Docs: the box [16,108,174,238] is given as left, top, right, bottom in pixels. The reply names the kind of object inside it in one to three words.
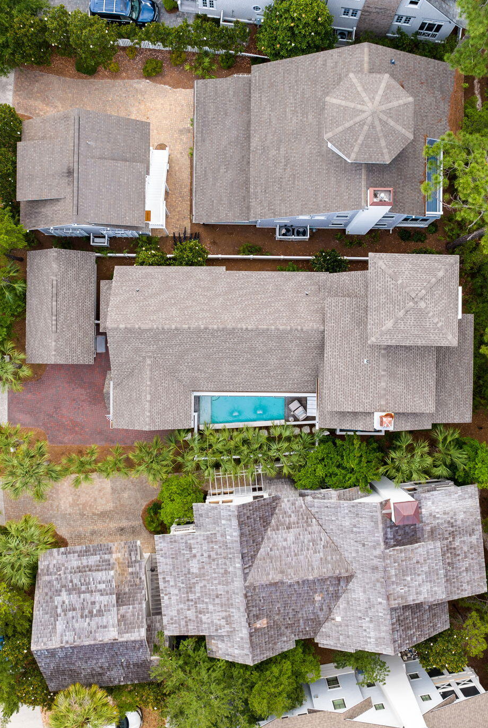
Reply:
building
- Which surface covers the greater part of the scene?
buildings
